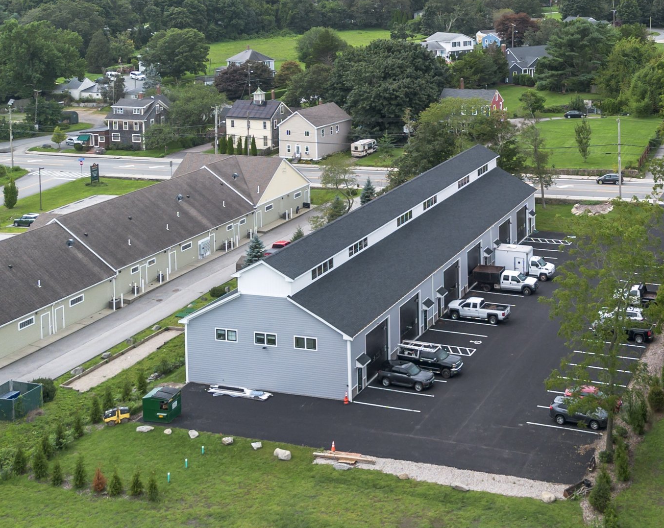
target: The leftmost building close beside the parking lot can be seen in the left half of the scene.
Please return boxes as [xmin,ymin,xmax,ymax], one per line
[0,151,315,358]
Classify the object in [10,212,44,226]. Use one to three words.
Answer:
car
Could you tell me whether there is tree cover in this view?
Yes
